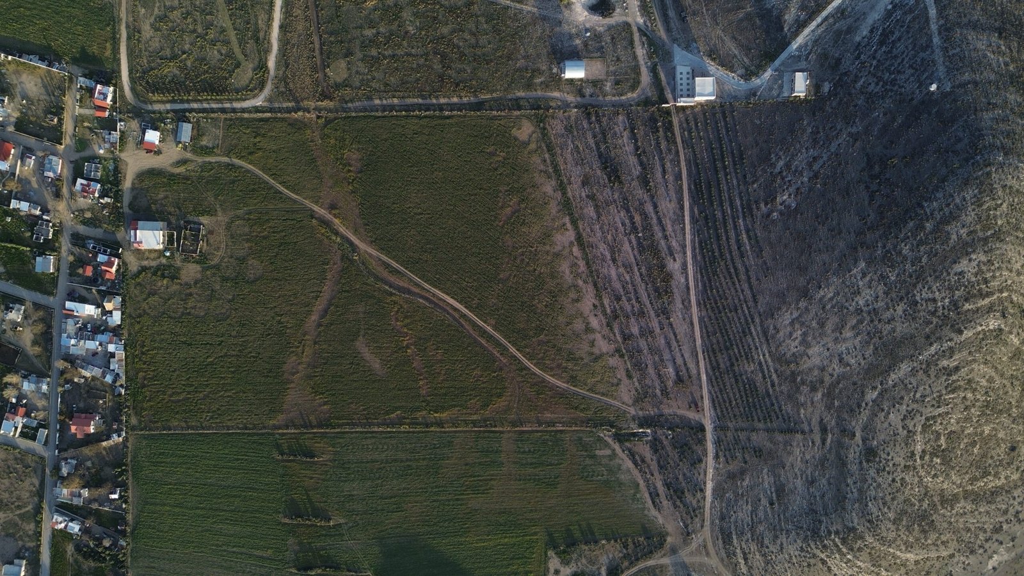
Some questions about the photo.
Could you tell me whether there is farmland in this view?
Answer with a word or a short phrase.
Yes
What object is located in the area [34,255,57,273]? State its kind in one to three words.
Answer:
house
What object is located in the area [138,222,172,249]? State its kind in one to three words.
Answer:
building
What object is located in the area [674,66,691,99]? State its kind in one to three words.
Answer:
building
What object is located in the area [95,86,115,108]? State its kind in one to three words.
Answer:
house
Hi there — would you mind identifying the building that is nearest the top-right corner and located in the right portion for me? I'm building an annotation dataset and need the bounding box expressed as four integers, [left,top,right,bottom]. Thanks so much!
[781,73,808,95]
